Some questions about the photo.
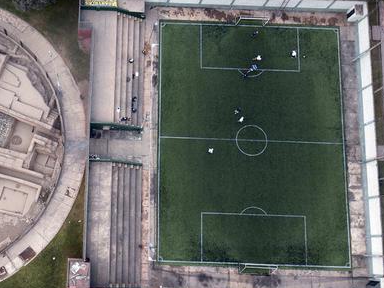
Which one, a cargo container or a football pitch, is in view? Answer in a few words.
football pitch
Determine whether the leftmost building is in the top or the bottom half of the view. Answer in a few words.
bottom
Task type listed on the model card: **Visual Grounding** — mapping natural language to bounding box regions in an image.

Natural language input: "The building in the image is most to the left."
[66,258,91,288]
